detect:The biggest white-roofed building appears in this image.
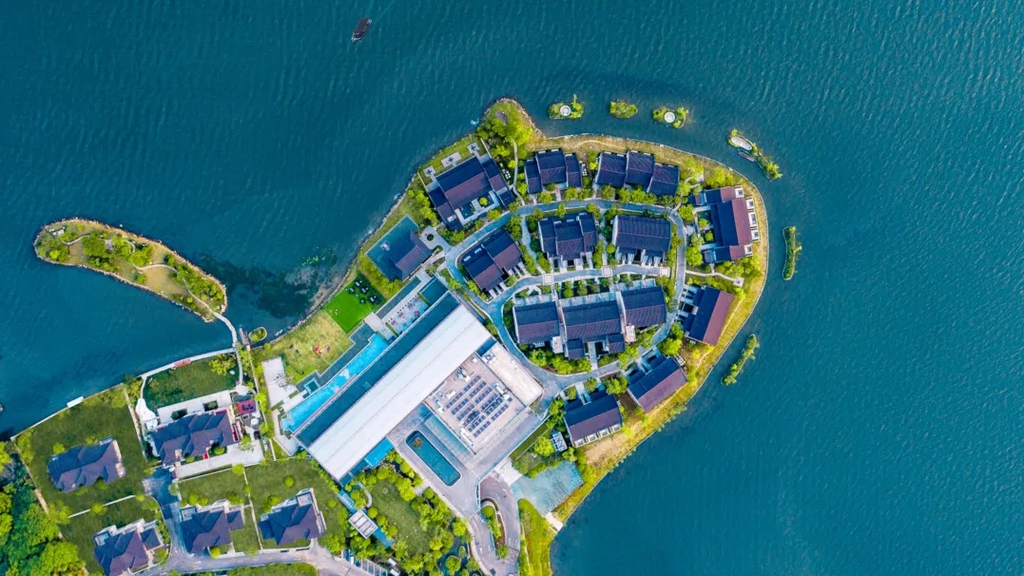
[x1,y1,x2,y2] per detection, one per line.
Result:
[290,291,543,510]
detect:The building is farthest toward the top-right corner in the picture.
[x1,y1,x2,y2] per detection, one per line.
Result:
[687,186,761,265]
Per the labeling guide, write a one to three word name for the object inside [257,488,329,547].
house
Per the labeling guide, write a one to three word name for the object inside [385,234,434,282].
building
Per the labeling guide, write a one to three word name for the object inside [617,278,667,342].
house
